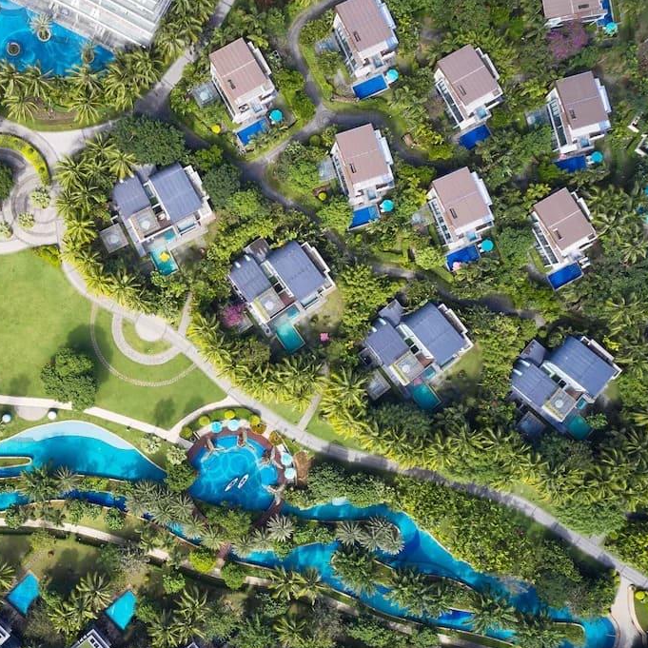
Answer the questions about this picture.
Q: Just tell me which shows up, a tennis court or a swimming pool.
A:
swimming pool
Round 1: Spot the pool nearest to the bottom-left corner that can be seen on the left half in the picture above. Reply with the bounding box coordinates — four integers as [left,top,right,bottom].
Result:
[4,571,39,617]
